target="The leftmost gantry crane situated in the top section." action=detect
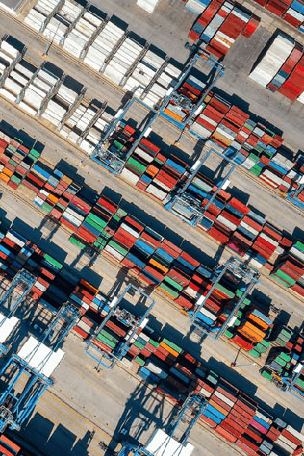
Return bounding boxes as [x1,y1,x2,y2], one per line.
[92,97,157,175]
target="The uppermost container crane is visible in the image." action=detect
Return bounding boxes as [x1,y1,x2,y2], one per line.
[156,58,220,132]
